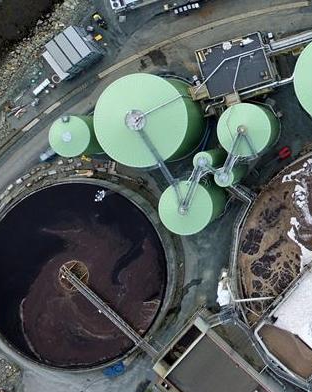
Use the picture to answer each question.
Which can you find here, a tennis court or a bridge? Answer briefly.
bridge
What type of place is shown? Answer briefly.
industrial area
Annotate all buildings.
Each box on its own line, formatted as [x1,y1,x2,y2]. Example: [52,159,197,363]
[163,329,273,392]
[43,25,104,81]
[194,31,277,100]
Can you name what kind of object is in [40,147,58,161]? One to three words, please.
vehicle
